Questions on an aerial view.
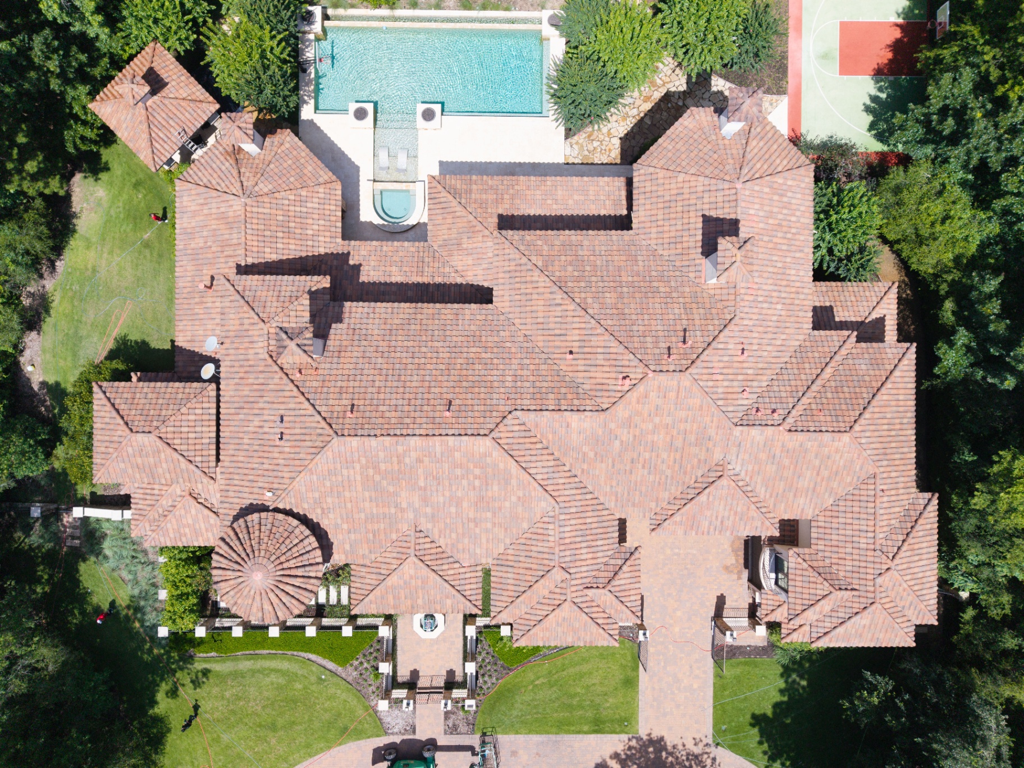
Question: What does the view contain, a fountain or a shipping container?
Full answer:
I can see a fountain in this picture.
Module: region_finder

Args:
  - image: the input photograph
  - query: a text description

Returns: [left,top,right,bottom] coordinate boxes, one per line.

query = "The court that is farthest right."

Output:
[802,0,928,151]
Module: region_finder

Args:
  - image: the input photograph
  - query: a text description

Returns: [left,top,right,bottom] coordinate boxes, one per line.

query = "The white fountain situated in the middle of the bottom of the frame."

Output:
[413,614,445,639]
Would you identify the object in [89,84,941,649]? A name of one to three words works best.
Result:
house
